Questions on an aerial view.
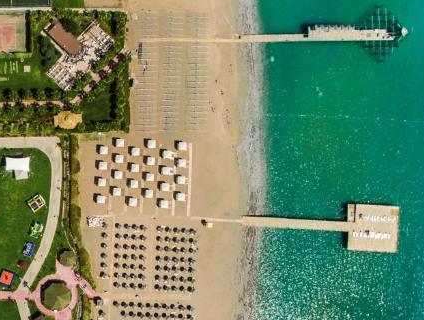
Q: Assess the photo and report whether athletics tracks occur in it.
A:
No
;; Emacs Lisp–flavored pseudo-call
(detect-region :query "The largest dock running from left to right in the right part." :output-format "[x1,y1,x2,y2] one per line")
[229,203,399,252]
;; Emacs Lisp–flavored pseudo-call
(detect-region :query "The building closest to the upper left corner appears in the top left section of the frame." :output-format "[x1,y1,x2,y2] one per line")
[46,20,82,58]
